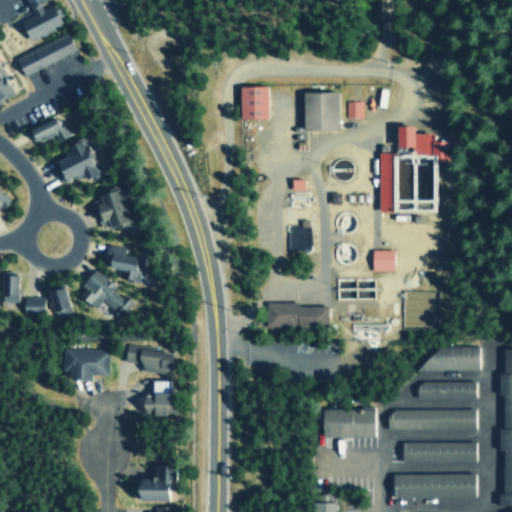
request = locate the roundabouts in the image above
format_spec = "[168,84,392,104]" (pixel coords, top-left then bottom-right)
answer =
[37,222,74,258]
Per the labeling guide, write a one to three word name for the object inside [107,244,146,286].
house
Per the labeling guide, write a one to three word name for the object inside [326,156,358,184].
storage tank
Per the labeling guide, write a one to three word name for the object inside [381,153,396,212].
shed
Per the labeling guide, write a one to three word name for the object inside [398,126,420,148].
building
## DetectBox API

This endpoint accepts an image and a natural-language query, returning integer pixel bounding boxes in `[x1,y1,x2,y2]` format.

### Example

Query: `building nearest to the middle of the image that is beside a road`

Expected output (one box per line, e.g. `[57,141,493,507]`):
[288,218,314,254]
